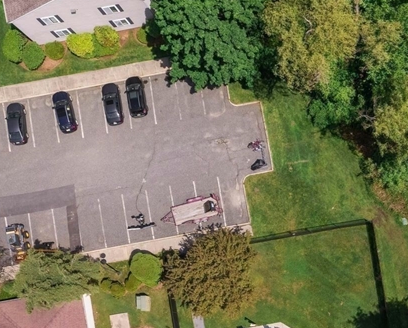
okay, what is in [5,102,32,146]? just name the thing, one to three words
car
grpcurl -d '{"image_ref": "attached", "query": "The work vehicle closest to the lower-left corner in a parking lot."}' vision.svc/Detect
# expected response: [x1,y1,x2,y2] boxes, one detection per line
[6,226,33,262]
